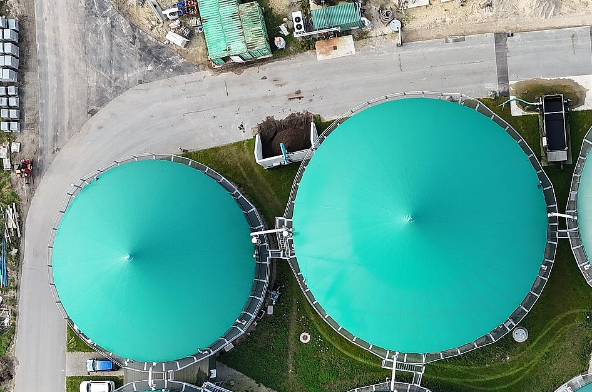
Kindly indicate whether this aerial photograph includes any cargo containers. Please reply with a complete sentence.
Yes, I can see a cargo container in this picture.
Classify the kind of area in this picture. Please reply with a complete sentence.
This looks like an industrial area.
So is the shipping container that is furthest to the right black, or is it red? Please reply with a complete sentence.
The shipping container that is furthest to the right is black.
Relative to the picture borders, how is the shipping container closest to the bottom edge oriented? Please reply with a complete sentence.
What the image shows is the shipping container closest to the bottom edge lying vertically.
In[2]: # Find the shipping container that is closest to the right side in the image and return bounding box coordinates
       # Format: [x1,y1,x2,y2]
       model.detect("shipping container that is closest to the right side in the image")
[539,94,572,169]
